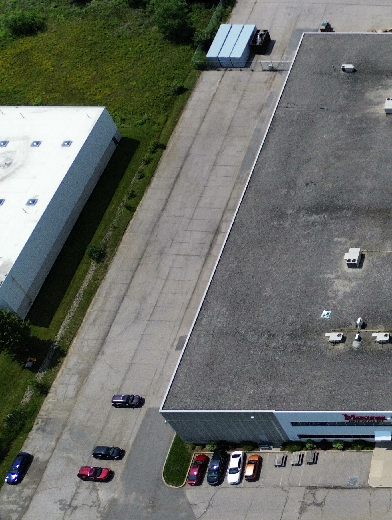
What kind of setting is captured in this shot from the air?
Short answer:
industrial area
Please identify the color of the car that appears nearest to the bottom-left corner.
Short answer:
blue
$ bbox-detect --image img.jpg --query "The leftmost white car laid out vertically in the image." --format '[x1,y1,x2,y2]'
[228,453,246,484]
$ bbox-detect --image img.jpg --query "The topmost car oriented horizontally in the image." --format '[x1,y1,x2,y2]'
[111,393,143,408]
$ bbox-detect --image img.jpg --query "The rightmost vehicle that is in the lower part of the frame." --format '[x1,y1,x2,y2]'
[245,455,262,482]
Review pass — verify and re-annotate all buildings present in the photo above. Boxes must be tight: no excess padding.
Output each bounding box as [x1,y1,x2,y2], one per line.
[160,32,392,451]
[0,106,124,313]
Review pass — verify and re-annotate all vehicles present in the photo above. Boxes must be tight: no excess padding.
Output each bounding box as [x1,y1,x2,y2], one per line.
[188,455,209,485]
[111,393,143,408]
[245,455,262,482]
[7,454,30,482]
[77,465,112,481]
[207,452,228,486]
[90,445,124,461]
[228,453,246,484]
